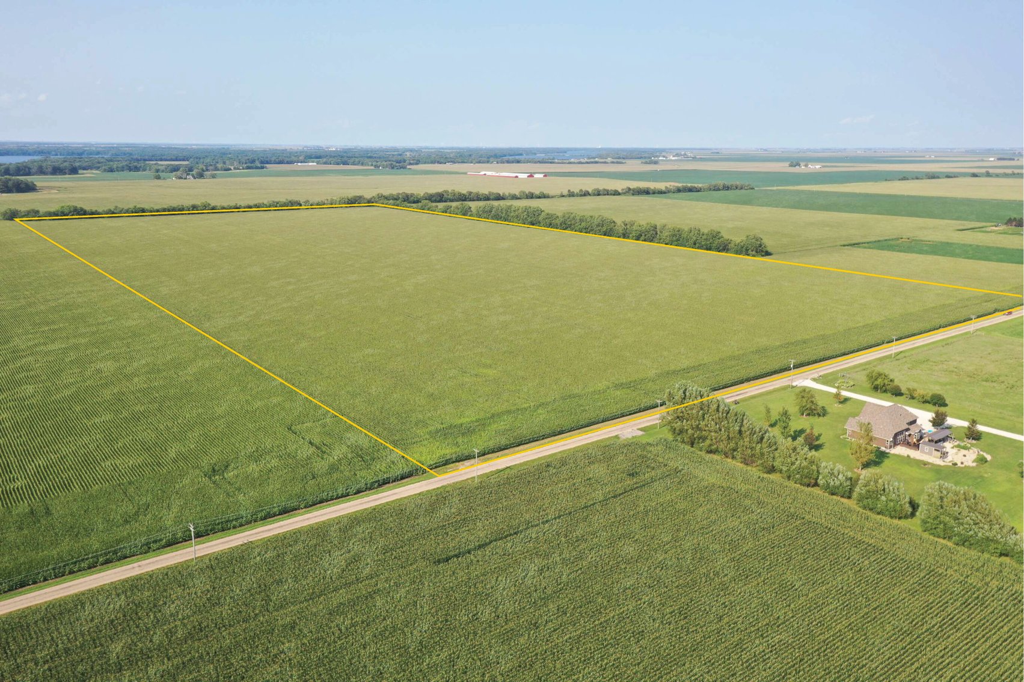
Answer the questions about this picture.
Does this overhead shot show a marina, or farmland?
farmland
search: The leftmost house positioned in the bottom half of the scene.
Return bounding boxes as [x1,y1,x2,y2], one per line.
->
[836,402,927,451]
